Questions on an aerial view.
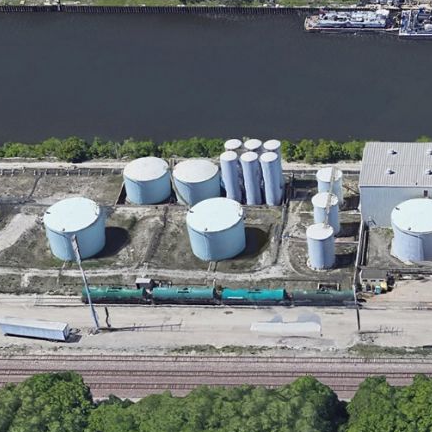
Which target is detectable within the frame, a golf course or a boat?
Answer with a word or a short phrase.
boat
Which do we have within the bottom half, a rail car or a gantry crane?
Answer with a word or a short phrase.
rail car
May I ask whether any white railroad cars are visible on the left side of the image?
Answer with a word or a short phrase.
No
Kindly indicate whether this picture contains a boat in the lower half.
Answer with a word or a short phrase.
No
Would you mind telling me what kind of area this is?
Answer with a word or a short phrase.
industrial area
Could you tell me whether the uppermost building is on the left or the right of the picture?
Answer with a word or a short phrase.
right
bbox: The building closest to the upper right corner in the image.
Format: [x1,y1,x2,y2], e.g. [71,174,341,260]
[358,142,432,230]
